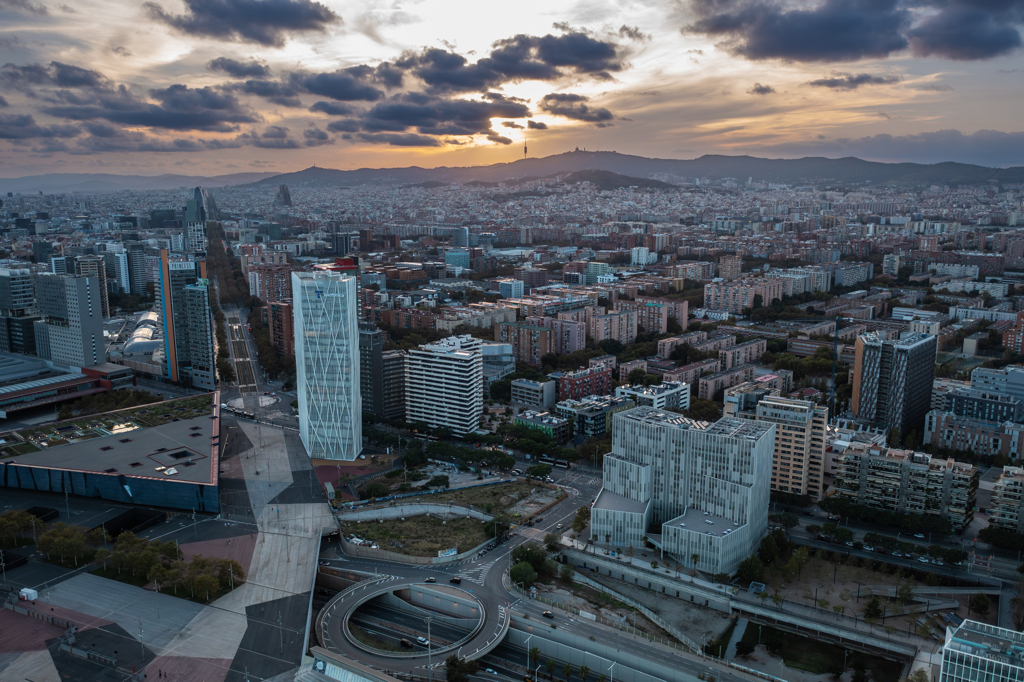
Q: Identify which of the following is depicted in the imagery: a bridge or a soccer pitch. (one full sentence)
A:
Of the two, only a bridge appears.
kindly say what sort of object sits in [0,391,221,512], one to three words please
building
